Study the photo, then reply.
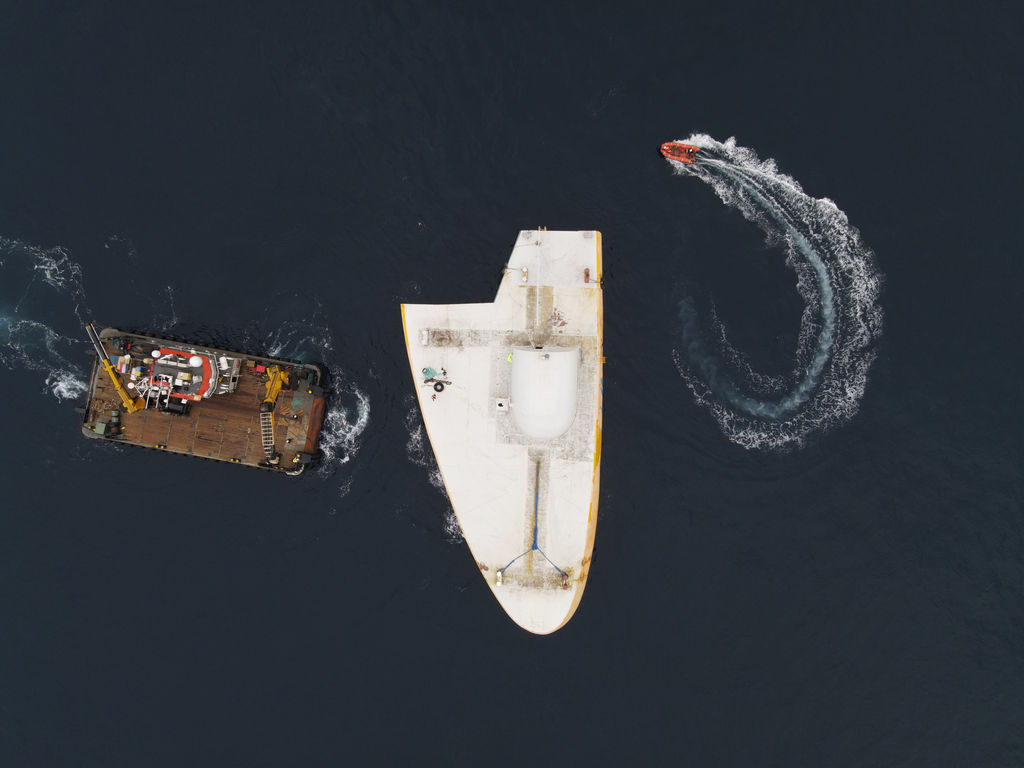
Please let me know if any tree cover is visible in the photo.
No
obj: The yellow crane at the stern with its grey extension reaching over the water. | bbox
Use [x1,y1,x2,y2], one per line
[84,321,147,413]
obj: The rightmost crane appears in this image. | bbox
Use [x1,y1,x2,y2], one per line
[260,366,292,464]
